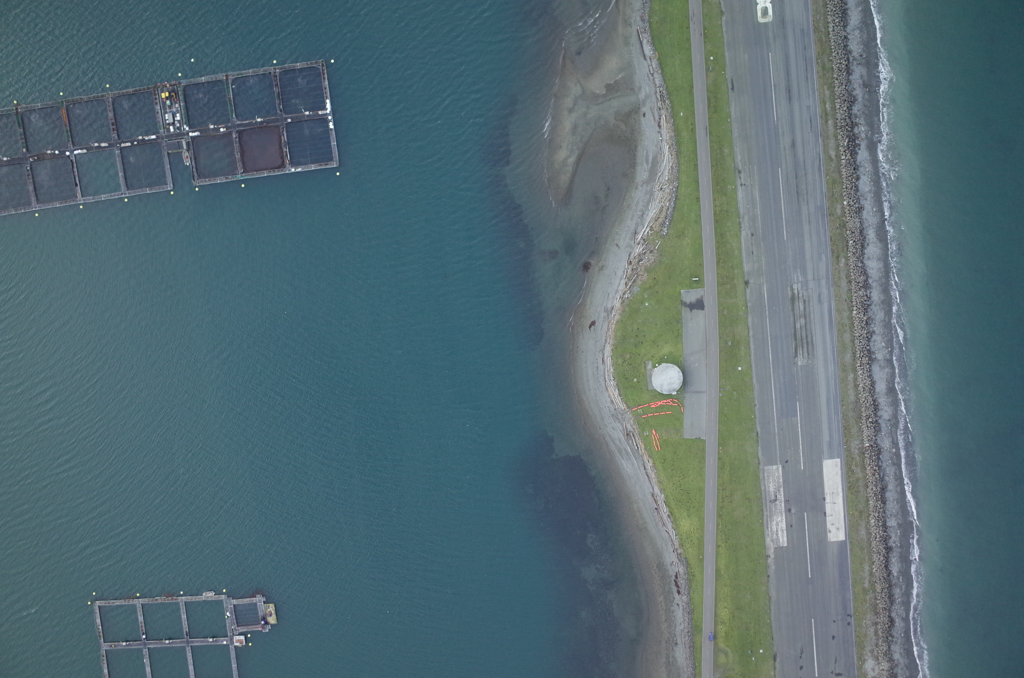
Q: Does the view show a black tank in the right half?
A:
No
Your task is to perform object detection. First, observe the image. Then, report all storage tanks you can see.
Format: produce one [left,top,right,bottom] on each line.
[650,361,683,394]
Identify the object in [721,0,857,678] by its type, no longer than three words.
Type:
runway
